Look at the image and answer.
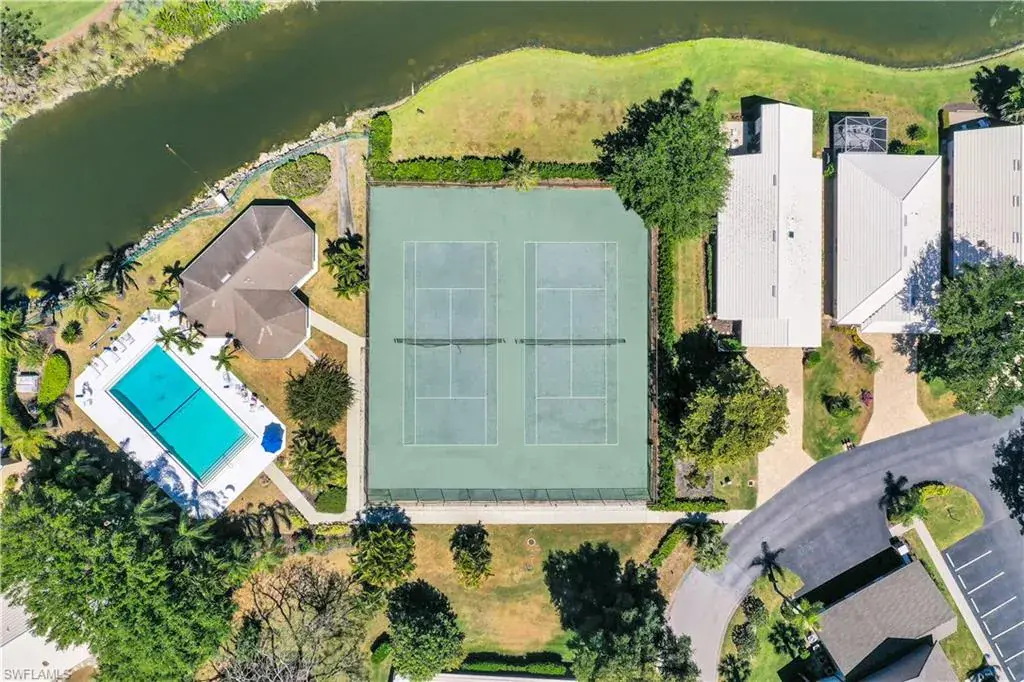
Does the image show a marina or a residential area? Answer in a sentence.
What you see here is a residential area.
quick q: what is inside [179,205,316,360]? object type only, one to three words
building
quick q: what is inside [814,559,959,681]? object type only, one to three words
house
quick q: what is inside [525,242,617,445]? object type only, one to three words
tennis court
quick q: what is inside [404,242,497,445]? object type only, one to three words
tennis court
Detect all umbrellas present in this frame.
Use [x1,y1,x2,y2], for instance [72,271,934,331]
[262,432,284,454]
